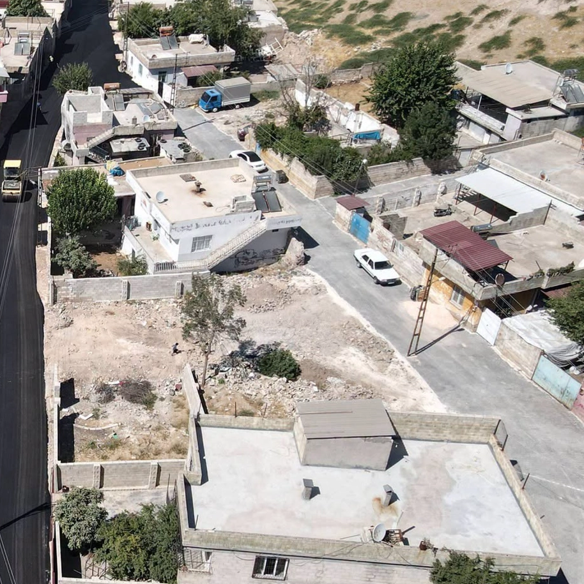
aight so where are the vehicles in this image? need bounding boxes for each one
[350,249,405,283]
[435,205,456,217]
[0,163,24,206]
[228,151,272,172]
[199,79,258,110]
